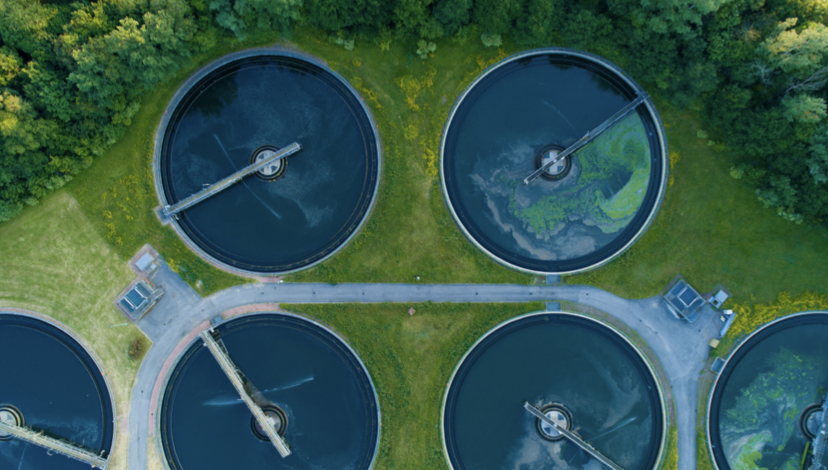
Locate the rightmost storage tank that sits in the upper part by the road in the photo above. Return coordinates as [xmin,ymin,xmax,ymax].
[440,47,669,276]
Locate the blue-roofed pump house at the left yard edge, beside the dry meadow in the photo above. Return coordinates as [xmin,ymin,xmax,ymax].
[117,282,163,319]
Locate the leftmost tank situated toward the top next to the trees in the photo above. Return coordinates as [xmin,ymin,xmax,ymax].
[154,47,383,276]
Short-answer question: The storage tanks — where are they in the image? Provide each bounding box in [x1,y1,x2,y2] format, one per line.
[0,308,120,470]
[440,308,669,470]
[154,308,383,470]
[440,47,669,276]
[154,47,383,276]
[703,308,828,470]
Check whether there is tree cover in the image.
Yes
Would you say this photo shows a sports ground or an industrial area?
industrial area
